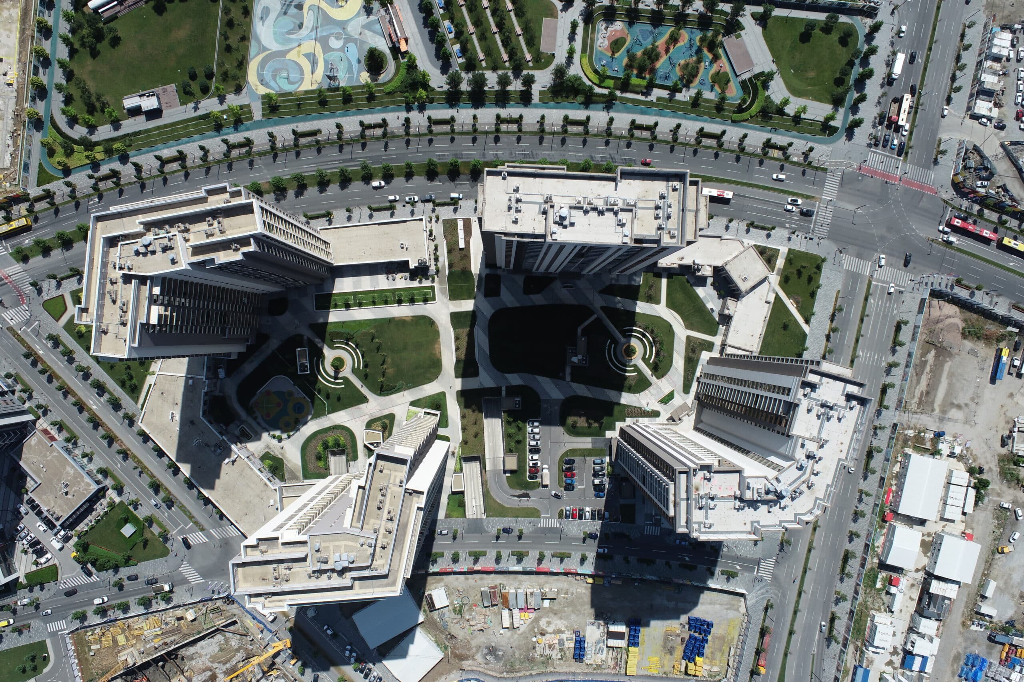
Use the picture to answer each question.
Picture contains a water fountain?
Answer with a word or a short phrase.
No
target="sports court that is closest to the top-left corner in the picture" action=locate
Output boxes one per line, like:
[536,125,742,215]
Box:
[247,0,395,121]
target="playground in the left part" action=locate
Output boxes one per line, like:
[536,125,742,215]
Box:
[247,376,313,432]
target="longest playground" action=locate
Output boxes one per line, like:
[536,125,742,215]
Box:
[594,19,742,102]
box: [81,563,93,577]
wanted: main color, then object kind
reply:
black vehicle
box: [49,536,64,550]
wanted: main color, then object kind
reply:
white vehicle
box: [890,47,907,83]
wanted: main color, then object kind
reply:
white vehicle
